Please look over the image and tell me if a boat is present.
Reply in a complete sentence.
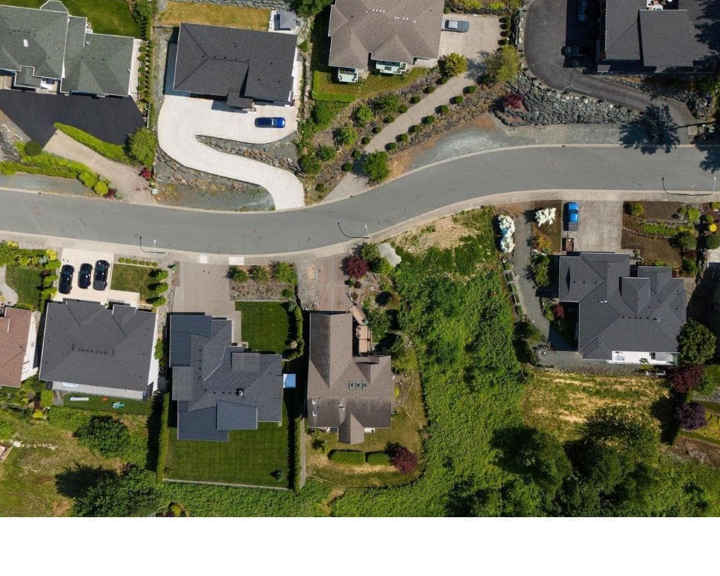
No, no boat is visible in the view.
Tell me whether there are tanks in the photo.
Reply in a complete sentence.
No, the frame has no tank in it.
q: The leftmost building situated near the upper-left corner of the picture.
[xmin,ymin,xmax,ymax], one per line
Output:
[0,2,138,97]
